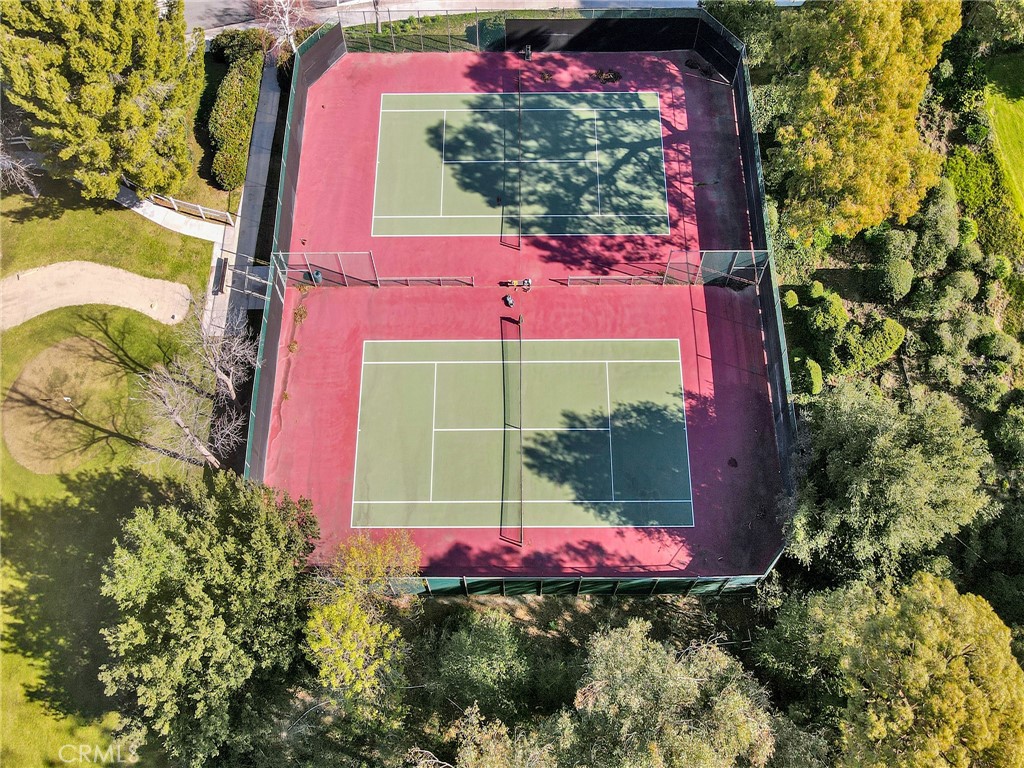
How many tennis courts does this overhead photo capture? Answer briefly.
2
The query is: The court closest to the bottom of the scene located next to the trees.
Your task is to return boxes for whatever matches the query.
[262,284,786,579]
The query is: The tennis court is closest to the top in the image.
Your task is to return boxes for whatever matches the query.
[287,50,756,287]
